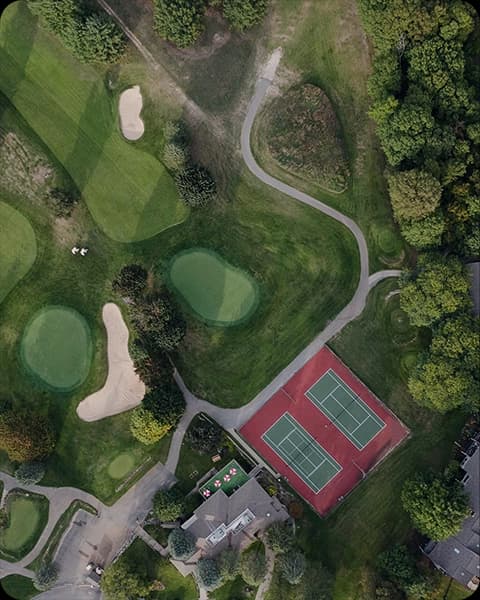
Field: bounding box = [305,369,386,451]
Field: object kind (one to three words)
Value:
tennis court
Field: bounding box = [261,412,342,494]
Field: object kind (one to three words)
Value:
tennis court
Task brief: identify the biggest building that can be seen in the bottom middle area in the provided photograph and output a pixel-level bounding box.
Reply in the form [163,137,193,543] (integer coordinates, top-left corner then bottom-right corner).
[179,455,288,559]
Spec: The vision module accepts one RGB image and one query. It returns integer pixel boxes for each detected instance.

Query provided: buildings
[418,439,480,589]
[179,455,288,559]
[470,263,480,320]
